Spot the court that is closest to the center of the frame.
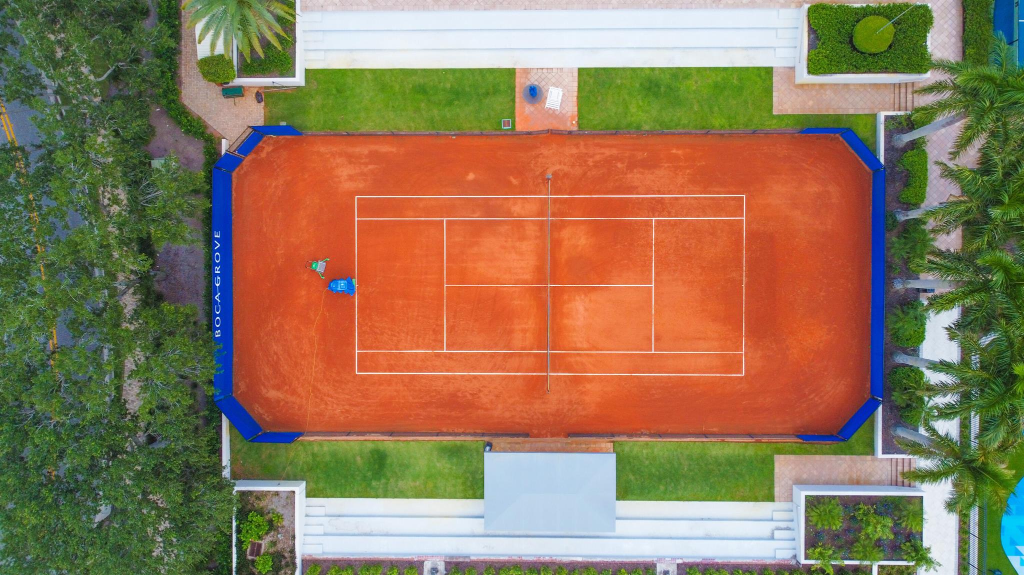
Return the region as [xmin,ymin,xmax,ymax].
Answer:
[232,134,873,438]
